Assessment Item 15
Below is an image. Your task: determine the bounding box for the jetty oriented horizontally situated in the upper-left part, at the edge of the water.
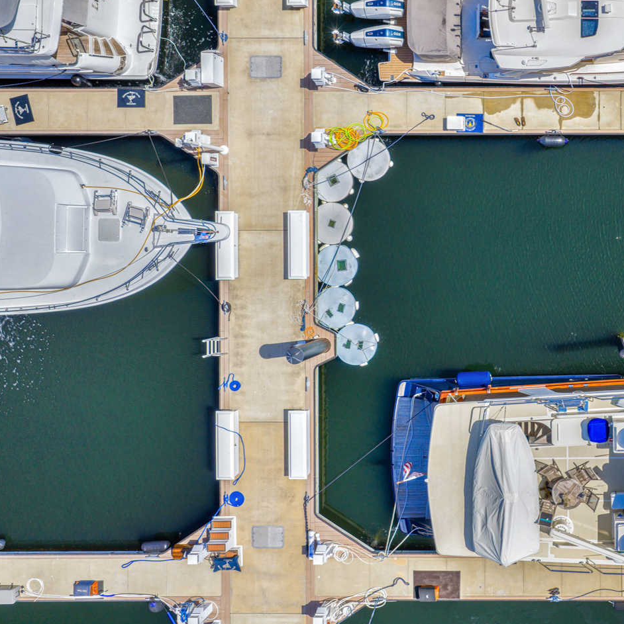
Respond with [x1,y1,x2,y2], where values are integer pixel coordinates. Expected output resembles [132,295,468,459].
[0,86,219,136]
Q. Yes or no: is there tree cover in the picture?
No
